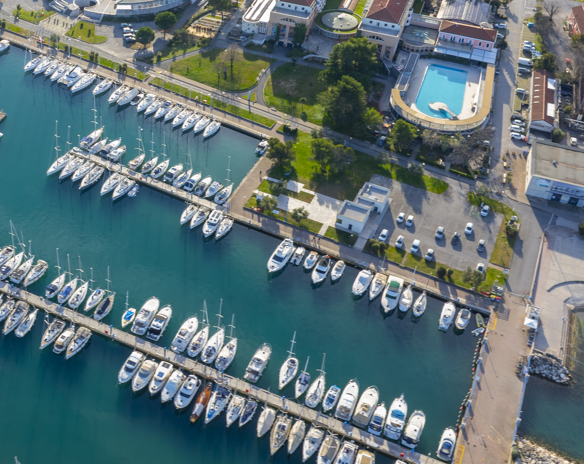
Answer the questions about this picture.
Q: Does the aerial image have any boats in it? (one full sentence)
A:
Yes, there's a boat here.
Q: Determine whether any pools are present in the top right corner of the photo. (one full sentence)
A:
Yes, the scene does show a pool in the top right corner of the photo.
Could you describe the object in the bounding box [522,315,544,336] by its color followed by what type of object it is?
white gazebo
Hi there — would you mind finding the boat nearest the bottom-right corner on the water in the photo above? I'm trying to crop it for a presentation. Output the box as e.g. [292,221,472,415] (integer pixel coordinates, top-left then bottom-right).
[437,425,456,464]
